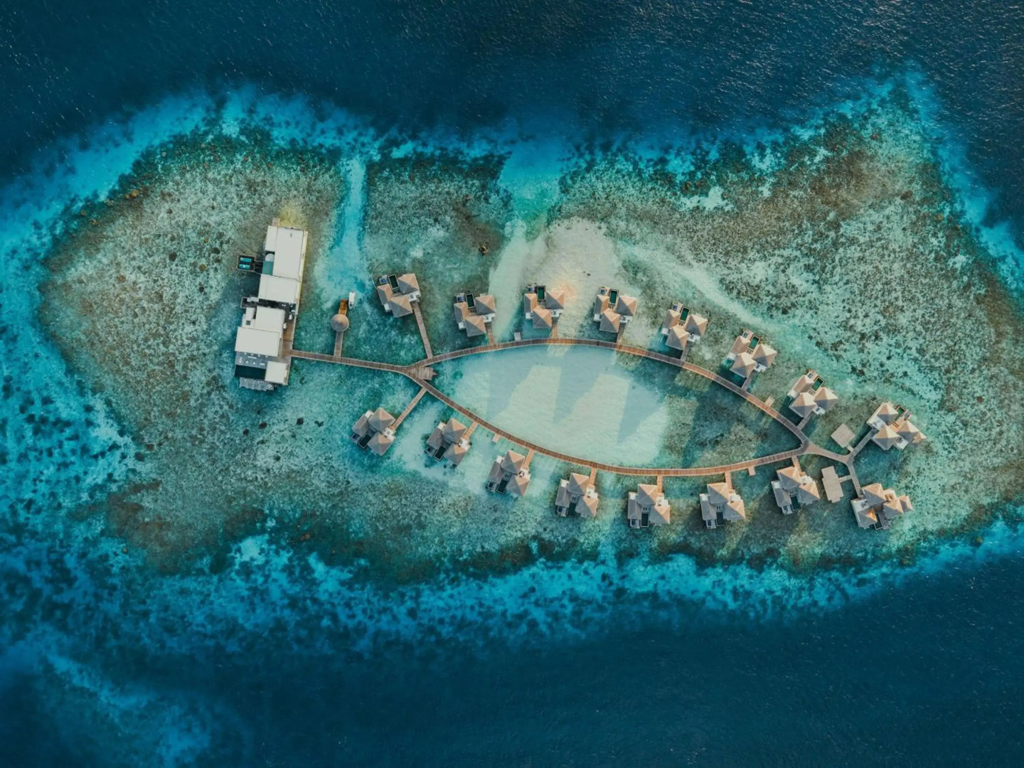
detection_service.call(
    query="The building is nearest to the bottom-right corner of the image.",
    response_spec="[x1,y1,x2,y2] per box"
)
[850,483,913,529]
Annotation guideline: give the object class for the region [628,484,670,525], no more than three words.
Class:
house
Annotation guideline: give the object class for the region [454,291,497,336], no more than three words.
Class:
house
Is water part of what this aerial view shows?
Yes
